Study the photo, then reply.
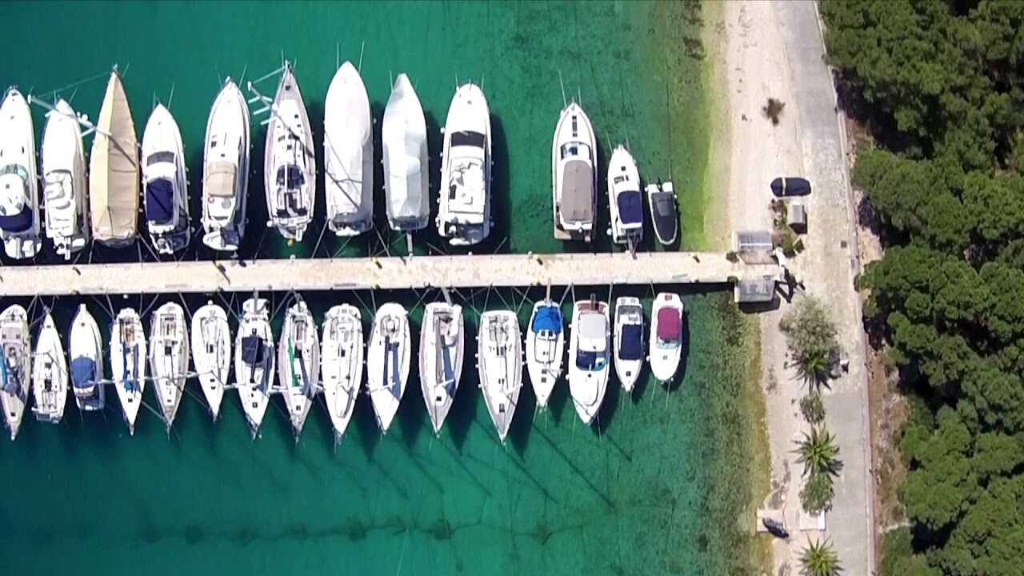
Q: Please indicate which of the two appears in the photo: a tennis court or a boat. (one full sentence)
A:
There is a boat in the scene.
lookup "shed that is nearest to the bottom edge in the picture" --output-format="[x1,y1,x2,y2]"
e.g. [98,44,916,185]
[726,278,774,304]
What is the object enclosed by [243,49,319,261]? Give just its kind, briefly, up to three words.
boat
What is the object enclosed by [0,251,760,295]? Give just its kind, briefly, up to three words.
pier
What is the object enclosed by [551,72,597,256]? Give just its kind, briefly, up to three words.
boat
